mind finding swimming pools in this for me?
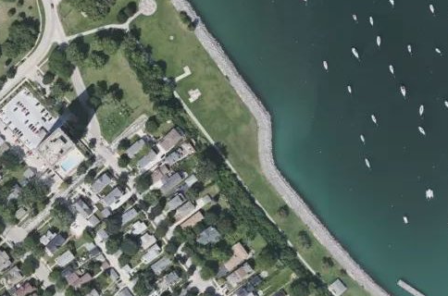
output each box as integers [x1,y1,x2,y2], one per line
[60,154,78,172]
